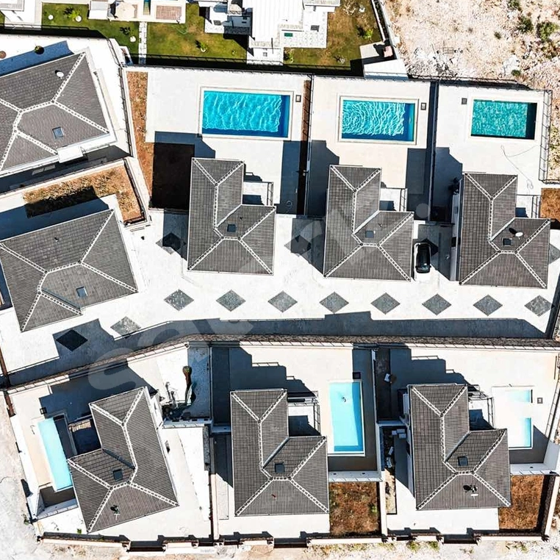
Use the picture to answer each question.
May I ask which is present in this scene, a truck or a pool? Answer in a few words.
pool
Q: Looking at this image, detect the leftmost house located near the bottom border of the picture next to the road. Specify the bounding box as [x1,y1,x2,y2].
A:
[65,380,180,535]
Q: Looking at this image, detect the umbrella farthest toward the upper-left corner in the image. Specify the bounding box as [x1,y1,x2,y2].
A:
[116,1,138,23]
